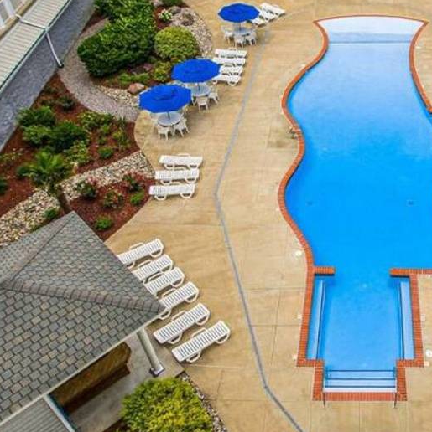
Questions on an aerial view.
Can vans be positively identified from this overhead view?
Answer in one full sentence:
No, I can't see a single van in this photo.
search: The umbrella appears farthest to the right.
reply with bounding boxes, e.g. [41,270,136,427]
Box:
[218,2,260,33]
